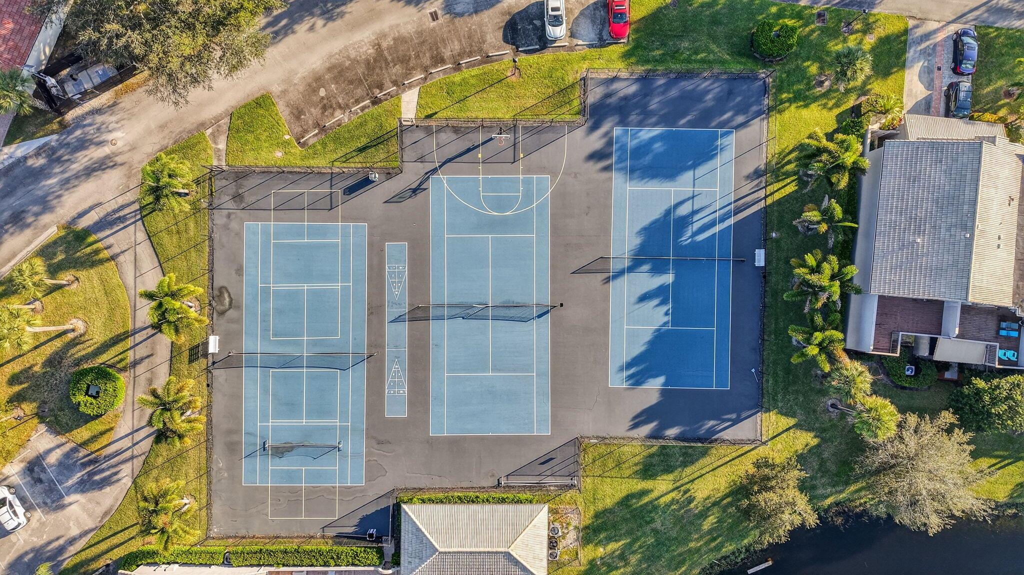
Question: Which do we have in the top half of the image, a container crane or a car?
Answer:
car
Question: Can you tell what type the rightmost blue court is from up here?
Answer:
tennis court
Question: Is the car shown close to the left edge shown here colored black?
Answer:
No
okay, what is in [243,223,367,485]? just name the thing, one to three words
tennis court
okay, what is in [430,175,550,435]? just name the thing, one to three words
tennis court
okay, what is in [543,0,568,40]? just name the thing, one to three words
car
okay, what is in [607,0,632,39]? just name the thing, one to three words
car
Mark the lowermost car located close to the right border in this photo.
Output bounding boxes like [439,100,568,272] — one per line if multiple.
[947,76,976,119]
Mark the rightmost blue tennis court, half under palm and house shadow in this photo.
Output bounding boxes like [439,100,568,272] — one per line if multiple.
[609,128,735,389]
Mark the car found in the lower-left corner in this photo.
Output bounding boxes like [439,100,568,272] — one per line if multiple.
[0,485,30,535]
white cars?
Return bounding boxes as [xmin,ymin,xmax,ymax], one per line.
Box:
[543,0,568,40]
[0,485,30,535]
